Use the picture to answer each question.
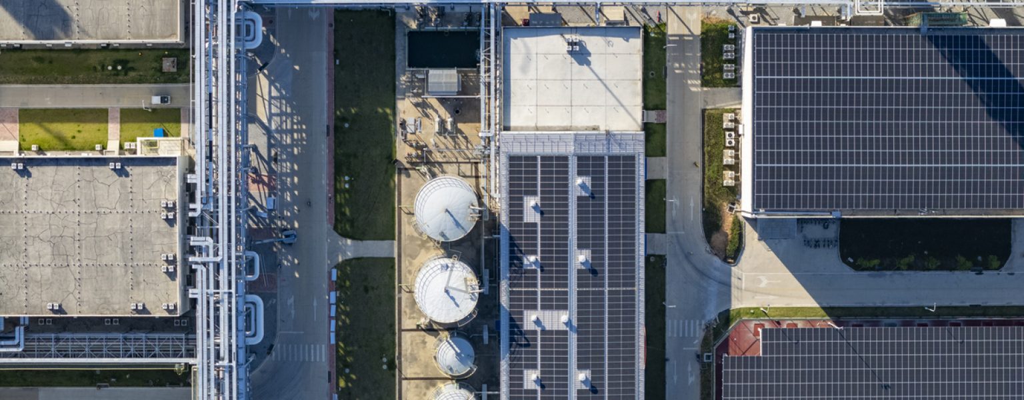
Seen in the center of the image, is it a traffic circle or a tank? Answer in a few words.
tank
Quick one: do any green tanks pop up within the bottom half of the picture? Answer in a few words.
No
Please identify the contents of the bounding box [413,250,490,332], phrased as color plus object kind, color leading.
white storage tank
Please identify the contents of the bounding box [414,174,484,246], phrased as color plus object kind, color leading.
white storage tank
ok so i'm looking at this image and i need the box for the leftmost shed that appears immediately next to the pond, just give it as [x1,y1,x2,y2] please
[427,69,465,96]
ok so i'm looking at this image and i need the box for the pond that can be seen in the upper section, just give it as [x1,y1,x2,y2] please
[407,28,482,69]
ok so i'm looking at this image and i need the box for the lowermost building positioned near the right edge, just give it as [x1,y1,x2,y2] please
[735,25,1024,218]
